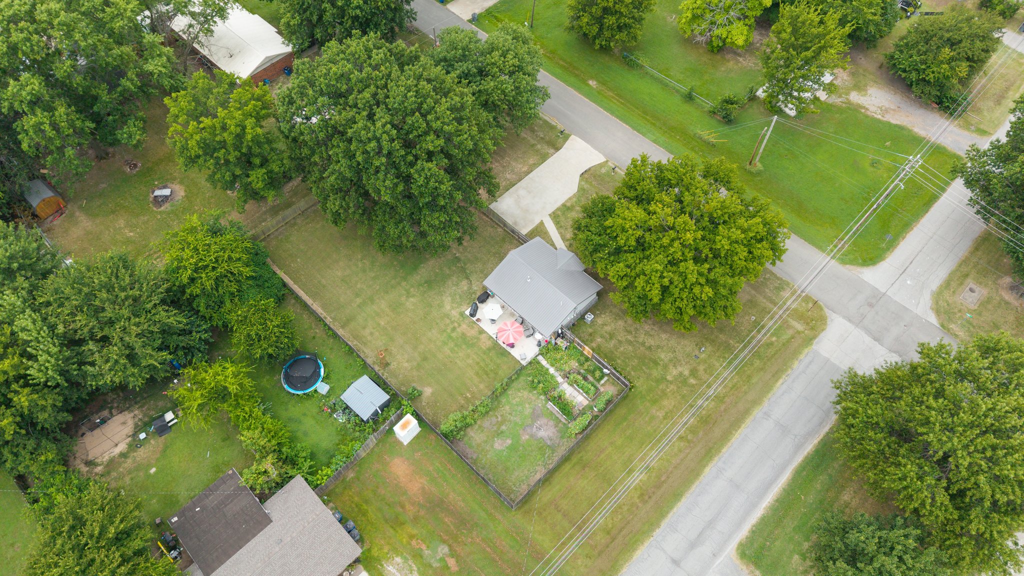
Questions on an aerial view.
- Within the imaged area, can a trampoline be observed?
Yes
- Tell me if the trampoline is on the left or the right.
left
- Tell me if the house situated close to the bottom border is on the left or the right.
left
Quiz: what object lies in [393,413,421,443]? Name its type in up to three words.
shed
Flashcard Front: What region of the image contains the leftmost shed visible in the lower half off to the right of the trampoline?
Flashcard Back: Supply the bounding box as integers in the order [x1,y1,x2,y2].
[340,375,390,422]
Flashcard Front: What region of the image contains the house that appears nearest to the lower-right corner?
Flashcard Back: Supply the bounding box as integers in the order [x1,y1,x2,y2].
[482,237,600,345]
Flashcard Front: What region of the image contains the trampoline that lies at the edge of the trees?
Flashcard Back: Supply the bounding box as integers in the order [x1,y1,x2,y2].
[274,346,323,405]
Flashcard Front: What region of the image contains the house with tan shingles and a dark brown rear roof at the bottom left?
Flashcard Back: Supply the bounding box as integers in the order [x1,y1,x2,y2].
[167,468,362,576]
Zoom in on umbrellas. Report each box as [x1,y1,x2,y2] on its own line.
[483,302,503,322]
[492,319,524,347]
